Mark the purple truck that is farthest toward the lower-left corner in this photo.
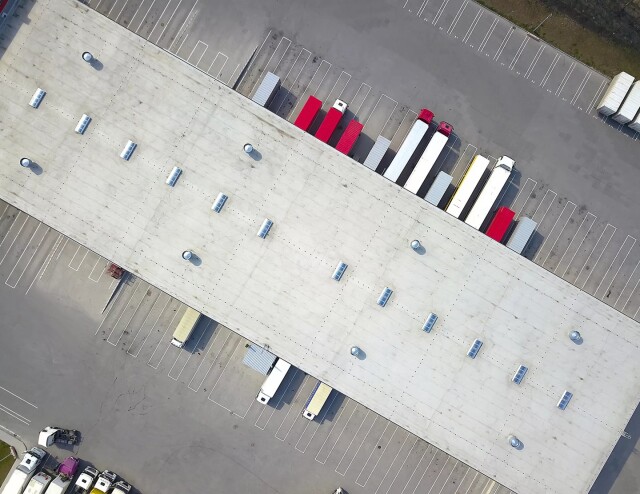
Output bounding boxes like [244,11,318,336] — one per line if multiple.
[60,455,83,477]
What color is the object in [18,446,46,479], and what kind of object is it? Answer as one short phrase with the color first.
white truck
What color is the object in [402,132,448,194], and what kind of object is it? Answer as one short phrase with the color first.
white trailer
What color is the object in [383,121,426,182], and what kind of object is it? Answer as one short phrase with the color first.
white trailer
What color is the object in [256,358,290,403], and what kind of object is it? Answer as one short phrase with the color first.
white truck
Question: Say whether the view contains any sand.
No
